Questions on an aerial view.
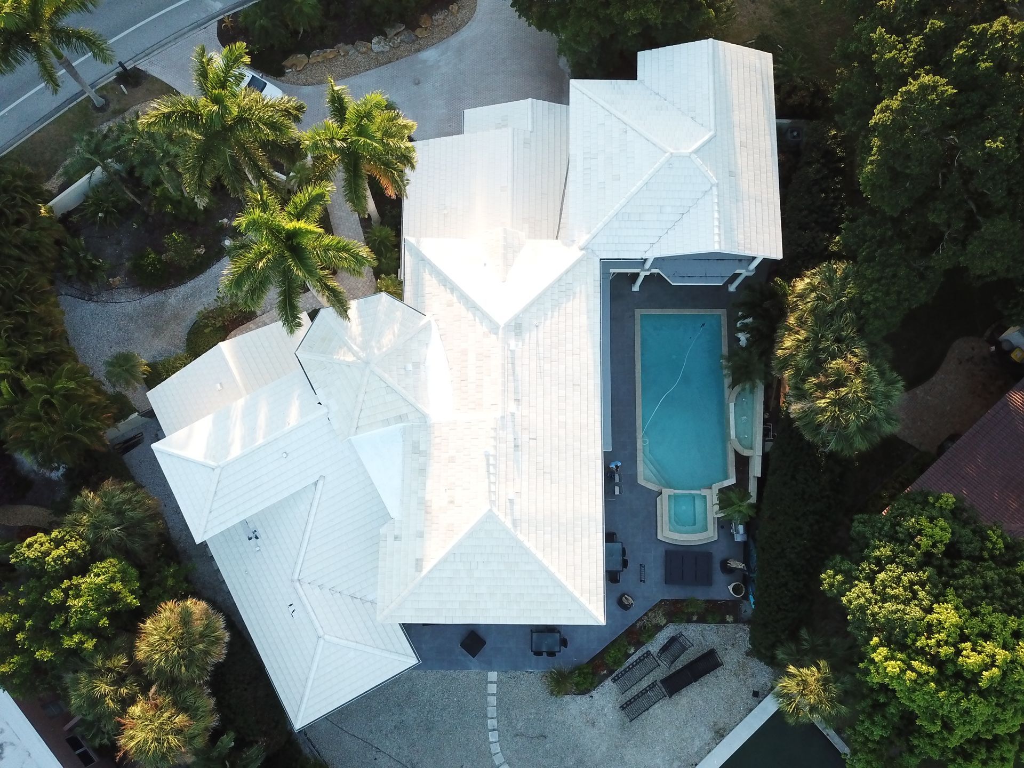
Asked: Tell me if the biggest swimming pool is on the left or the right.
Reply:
right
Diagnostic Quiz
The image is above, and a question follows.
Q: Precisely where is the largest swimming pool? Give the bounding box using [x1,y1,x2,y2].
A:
[635,309,735,494]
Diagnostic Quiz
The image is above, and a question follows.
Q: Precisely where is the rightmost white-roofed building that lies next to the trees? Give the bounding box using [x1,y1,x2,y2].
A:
[146,38,783,732]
